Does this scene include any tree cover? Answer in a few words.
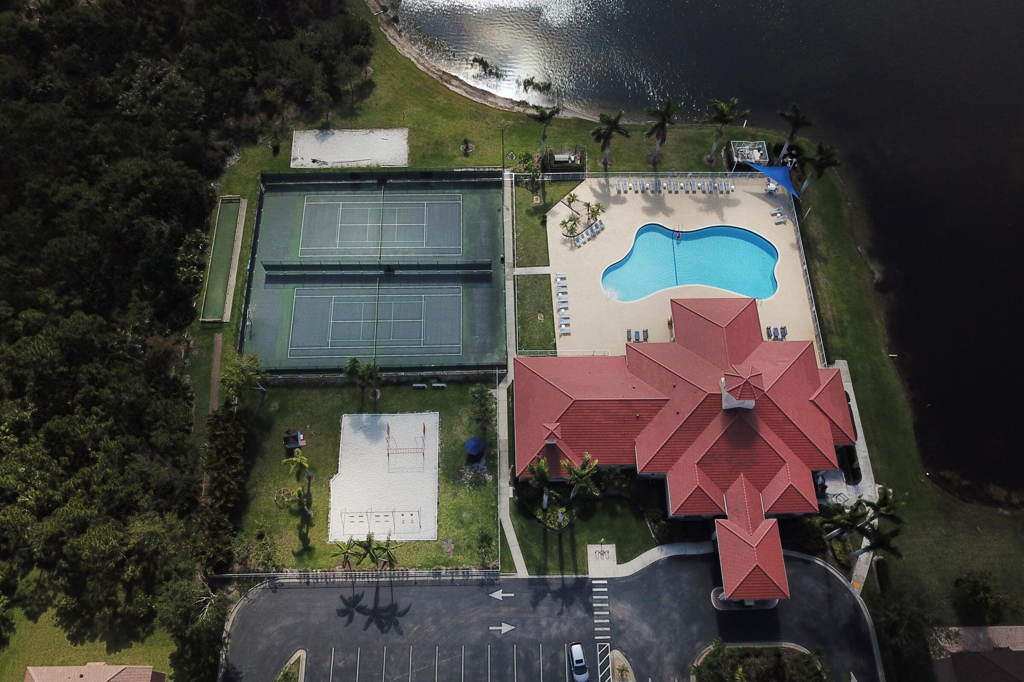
Yes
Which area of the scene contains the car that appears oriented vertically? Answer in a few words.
bottom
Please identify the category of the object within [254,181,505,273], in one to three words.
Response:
tennis court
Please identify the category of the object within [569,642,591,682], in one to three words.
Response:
car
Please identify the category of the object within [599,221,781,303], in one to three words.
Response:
swimming pool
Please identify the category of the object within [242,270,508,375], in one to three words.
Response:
tennis court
